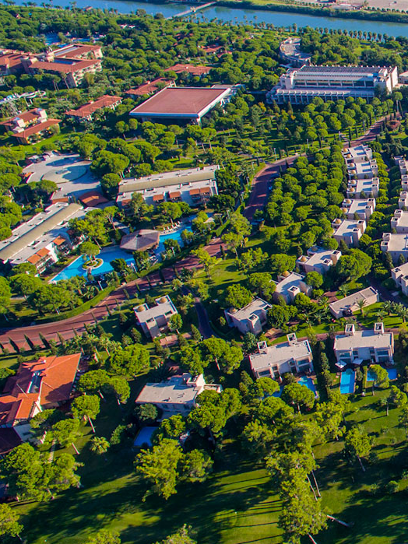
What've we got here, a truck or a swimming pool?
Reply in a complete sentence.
Visible in the photo is a swimming pool.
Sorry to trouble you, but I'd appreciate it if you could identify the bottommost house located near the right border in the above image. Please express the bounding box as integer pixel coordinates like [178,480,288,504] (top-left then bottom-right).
[332,325,395,364]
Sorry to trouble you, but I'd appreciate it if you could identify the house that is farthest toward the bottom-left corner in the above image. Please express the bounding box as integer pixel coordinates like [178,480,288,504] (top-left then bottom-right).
[135,383,197,418]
